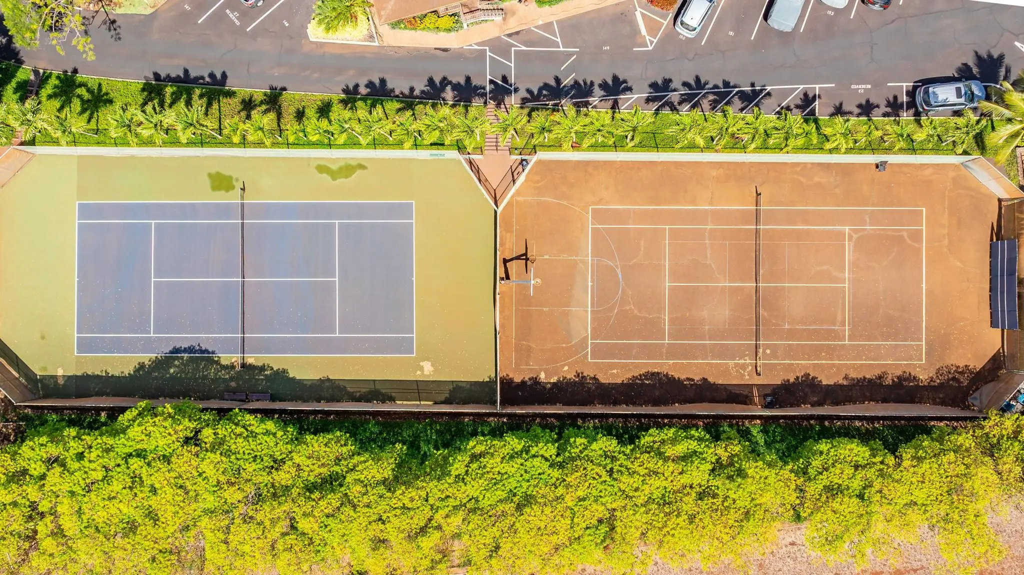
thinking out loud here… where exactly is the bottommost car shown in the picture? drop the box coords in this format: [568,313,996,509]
[915,79,988,114]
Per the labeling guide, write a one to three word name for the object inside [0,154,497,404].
tennis court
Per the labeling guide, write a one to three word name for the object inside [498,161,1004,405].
tennis court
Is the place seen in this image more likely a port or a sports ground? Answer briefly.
sports ground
